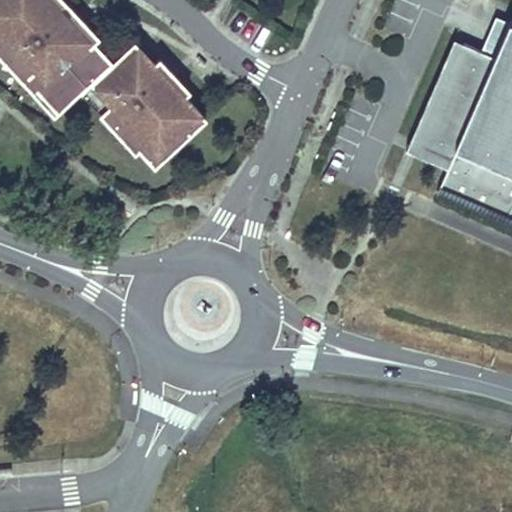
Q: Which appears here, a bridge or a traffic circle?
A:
traffic circle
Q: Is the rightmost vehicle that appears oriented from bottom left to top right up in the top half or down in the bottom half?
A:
top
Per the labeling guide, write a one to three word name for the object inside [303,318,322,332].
car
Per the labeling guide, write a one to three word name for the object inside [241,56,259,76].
car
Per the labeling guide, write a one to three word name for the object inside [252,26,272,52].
vehicle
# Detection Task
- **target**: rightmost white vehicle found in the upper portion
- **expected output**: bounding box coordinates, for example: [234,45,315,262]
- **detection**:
[321,152,344,183]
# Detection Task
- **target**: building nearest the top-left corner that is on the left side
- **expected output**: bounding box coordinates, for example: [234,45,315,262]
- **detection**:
[0,0,111,119]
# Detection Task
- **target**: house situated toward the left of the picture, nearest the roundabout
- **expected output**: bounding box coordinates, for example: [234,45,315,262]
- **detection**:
[88,44,208,172]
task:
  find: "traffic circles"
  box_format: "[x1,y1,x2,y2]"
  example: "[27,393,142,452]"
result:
[126,238,279,391]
